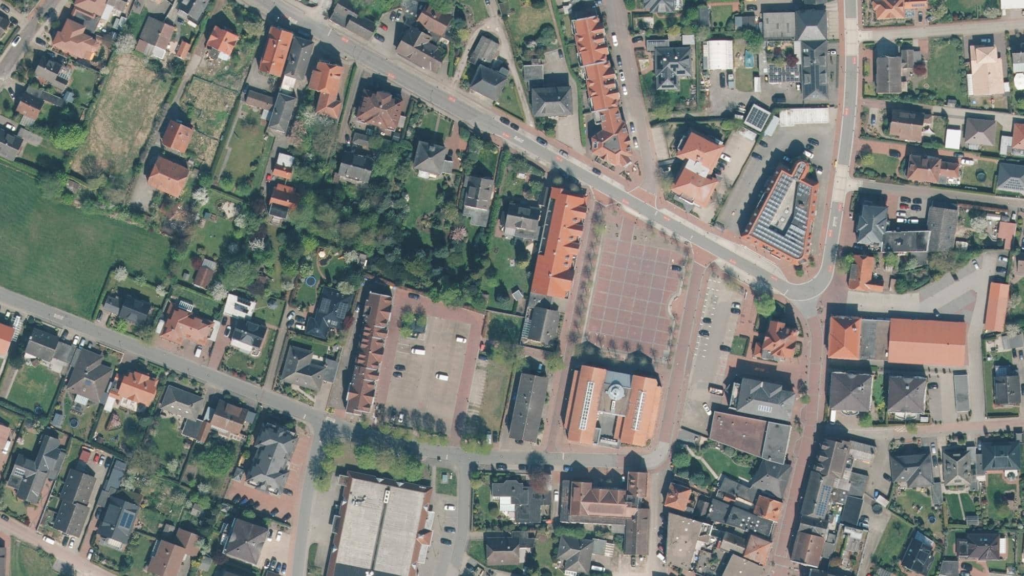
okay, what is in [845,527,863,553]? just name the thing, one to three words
shed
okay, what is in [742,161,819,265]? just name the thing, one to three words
building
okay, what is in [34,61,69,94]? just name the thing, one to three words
house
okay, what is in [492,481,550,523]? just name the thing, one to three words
house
